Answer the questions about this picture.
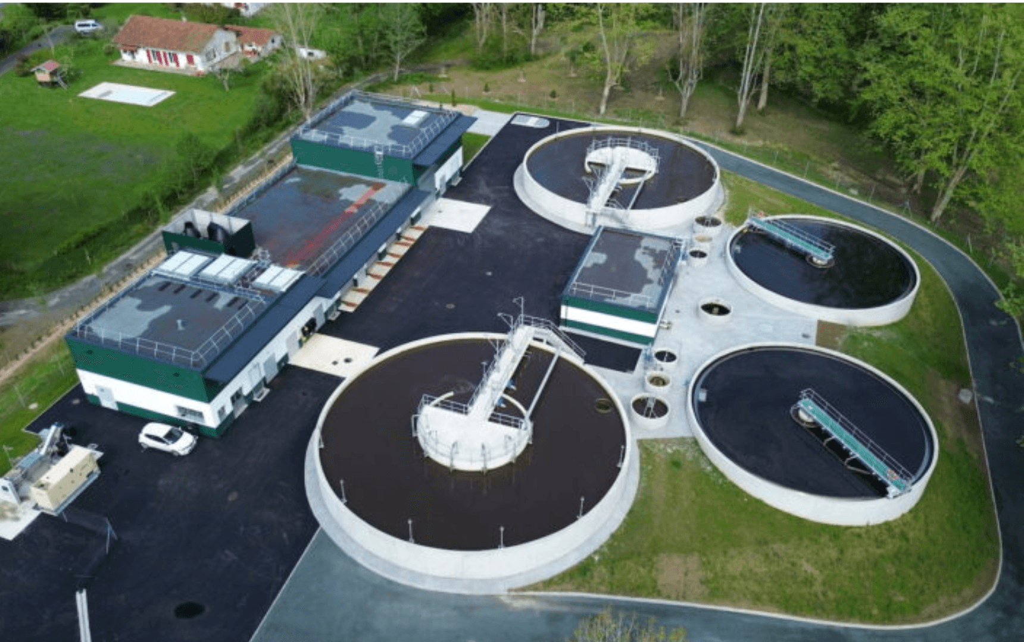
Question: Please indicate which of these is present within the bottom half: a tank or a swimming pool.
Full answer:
You can see a tank within the bottom half.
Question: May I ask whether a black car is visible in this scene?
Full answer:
No, there appears to be no black car in this shot.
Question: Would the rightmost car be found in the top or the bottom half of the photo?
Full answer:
Seen from above, the rightmost car lies in the bottom half of the view.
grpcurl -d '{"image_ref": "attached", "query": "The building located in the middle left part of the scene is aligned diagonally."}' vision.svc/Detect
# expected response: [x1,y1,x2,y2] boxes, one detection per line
[59,91,480,438]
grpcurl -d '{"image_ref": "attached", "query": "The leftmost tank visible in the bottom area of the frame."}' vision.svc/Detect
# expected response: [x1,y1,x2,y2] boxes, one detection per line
[305,297,640,591]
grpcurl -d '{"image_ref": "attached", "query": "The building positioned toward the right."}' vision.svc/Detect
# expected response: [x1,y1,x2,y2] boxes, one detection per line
[558,225,691,347]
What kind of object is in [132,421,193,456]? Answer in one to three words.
car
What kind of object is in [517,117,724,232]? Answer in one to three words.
storage tank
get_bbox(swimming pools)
[78,81,176,106]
